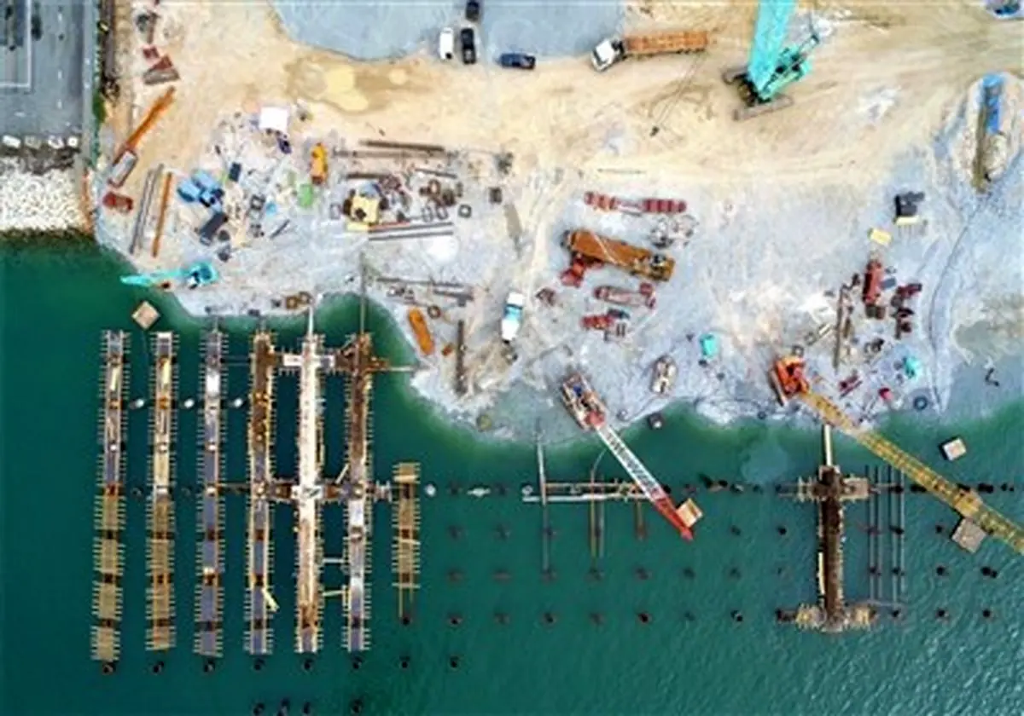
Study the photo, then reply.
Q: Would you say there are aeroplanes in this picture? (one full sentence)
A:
No, no aeroplane is visible in the scene.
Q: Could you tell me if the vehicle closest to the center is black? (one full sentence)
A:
No, the vehicle closest to the center is white.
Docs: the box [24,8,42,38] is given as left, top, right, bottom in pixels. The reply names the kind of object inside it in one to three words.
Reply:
car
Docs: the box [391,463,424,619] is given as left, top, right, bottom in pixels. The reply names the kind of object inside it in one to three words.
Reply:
pier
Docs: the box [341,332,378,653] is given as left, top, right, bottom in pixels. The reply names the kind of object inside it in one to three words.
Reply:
pier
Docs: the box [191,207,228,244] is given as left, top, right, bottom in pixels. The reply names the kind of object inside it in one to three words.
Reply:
truck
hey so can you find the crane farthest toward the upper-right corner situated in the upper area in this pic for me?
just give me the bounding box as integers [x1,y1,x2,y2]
[736,0,825,109]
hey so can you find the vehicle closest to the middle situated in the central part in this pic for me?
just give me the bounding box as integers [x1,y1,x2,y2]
[502,290,522,343]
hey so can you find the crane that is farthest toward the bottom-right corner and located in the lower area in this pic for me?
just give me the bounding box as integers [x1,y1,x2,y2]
[766,347,1024,559]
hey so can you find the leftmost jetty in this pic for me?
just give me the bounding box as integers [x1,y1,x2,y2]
[90,330,131,663]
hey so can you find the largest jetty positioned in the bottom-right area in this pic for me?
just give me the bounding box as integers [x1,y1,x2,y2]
[815,467,846,632]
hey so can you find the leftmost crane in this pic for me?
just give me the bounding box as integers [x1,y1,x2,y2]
[559,373,693,542]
